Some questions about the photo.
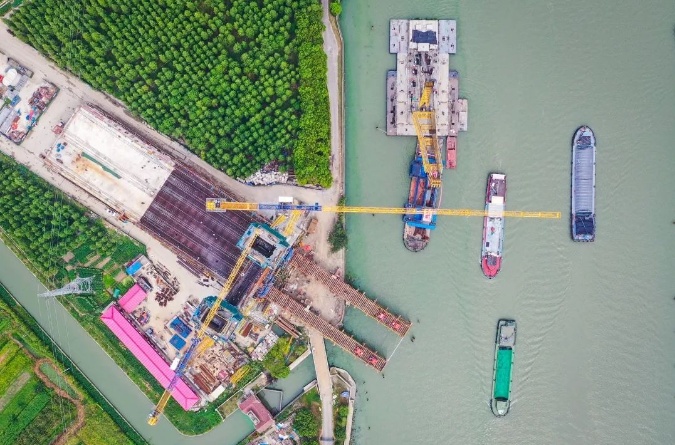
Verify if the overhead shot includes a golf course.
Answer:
No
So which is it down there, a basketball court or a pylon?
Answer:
pylon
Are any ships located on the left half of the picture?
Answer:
No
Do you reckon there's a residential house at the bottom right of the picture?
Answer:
No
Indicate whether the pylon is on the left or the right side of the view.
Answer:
left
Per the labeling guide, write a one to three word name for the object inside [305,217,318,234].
vehicle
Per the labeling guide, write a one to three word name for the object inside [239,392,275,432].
house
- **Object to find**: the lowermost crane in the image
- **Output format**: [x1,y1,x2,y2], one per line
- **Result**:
[144,227,262,424]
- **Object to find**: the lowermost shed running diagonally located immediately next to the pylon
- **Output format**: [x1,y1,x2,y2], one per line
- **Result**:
[101,307,200,411]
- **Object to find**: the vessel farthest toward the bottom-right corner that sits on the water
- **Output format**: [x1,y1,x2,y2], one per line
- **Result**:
[490,318,517,419]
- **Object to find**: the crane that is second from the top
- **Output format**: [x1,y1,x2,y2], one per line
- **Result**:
[204,194,564,218]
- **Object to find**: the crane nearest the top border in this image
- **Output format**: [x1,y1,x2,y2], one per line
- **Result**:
[370,18,459,188]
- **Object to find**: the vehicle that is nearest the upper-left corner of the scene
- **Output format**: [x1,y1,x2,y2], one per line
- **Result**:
[48,121,63,135]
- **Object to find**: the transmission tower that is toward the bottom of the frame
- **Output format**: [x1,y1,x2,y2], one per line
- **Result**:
[36,275,96,303]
